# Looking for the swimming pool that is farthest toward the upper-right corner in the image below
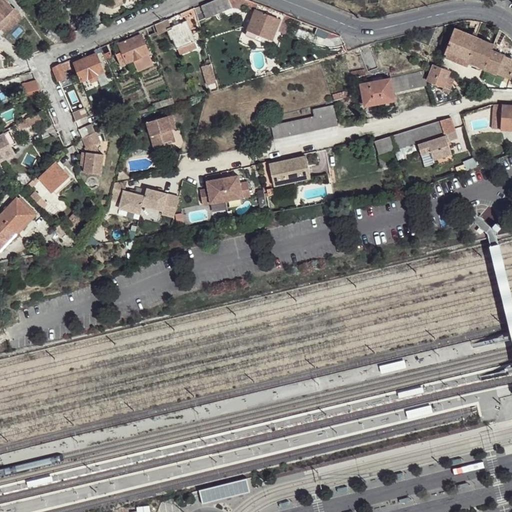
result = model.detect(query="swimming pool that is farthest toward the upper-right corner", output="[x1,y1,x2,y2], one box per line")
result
[471,117,490,133]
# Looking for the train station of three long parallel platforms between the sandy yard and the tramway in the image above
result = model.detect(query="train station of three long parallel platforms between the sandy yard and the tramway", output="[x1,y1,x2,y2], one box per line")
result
[0,332,512,512]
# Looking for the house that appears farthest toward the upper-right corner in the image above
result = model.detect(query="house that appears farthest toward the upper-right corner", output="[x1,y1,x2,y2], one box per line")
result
[444,28,512,84]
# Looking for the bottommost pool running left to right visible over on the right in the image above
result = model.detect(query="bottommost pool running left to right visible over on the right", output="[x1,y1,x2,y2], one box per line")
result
[304,186,326,200]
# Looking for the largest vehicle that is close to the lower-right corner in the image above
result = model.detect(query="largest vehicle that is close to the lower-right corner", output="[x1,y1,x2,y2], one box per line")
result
[453,462,486,475]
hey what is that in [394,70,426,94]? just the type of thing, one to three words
building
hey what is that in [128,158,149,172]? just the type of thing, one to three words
swimming pool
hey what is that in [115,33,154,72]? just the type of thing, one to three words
house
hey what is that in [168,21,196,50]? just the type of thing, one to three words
house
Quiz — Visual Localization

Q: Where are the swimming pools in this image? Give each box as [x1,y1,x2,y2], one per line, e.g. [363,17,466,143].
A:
[471,117,490,133]
[128,158,149,172]
[236,200,252,214]
[250,50,266,70]
[66,89,80,105]
[0,108,14,124]
[188,208,208,222]
[22,152,36,168]
[10,26,25,40]
[304,186,326,200]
